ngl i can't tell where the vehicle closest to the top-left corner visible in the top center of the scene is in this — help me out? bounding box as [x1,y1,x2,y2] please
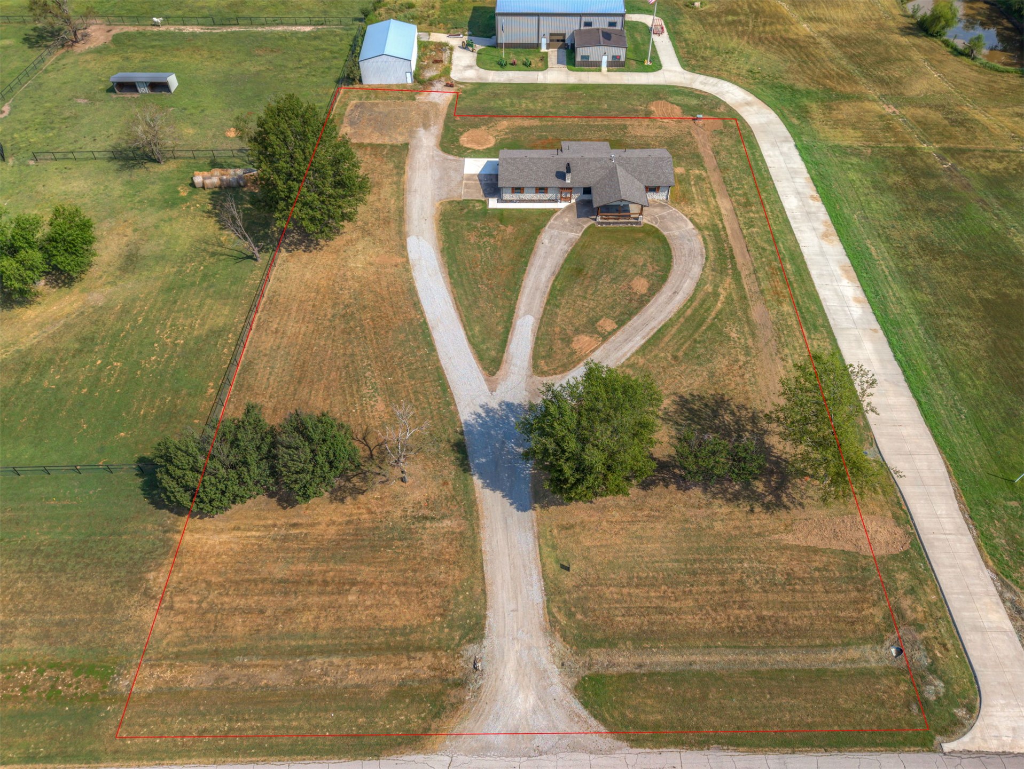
[463,34,480,51]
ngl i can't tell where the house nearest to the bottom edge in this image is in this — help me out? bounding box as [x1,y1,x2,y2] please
[498,140,674,218]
